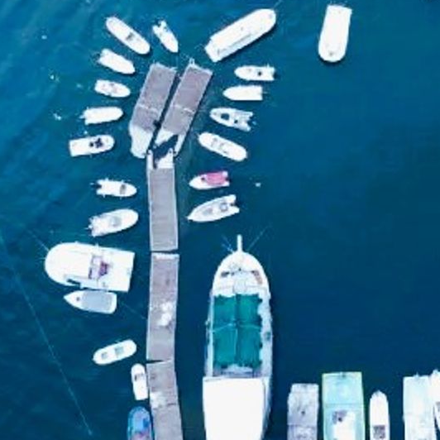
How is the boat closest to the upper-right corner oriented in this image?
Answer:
from top to bottom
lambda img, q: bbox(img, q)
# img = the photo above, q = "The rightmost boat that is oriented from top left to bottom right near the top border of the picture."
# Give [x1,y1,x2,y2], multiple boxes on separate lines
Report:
[154,19,177,52]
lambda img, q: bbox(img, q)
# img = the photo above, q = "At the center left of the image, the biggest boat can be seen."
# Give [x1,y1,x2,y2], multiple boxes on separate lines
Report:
[42,241,139,292]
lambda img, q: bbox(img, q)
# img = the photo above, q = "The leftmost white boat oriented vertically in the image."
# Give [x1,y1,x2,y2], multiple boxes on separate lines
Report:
[131,365,148,400]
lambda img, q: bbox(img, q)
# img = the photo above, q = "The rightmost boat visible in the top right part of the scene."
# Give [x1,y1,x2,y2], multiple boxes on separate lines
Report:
[320,1,349,62]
